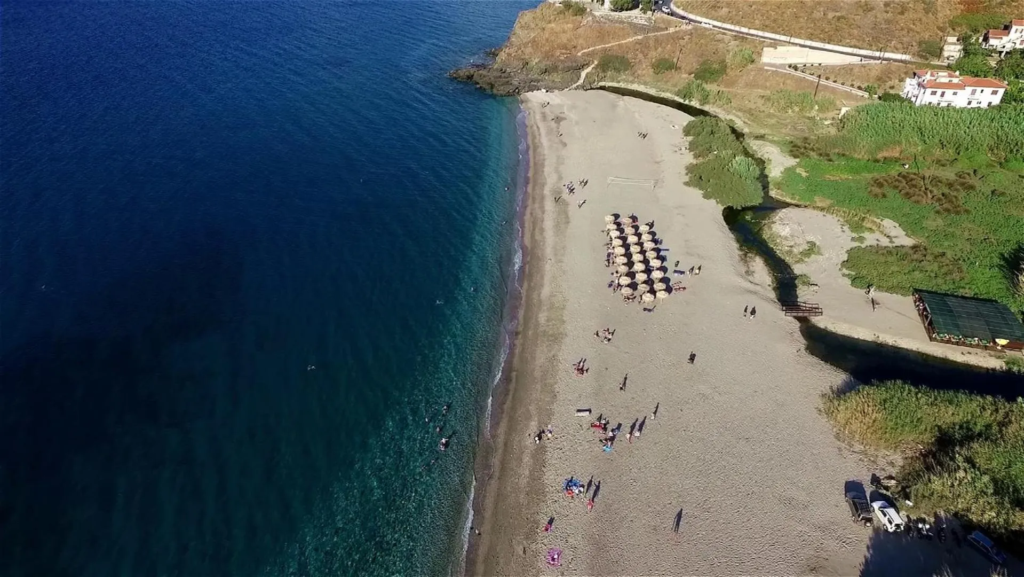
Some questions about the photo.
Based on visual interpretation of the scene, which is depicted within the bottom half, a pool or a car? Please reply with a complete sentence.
Looking within the bottom half, you will find a car.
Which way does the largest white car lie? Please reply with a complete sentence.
I'd say the largest white car is aligned diagonally in the picture.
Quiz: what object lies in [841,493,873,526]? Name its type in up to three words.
car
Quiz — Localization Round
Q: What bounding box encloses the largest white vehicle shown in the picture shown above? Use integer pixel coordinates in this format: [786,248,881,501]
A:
[868,497,908,534]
